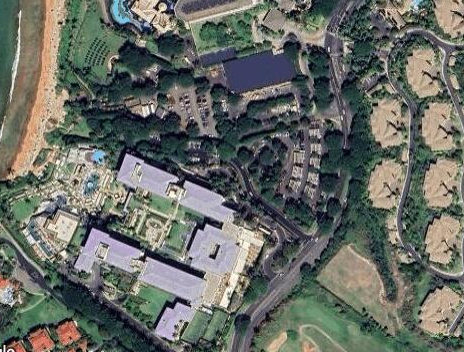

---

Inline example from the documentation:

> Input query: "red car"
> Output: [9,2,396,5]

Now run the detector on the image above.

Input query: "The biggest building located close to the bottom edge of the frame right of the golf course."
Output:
[422,284,461,337]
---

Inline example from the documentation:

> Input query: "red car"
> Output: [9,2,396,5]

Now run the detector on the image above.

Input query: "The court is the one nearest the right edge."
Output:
[203,310,230,341]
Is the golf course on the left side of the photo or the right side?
right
